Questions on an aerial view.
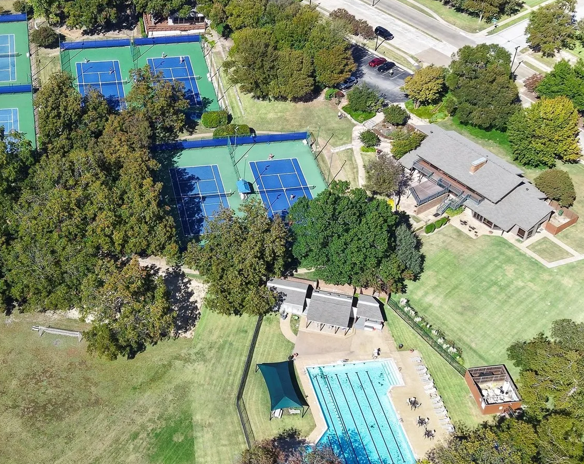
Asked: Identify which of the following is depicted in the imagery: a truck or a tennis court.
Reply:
tennis court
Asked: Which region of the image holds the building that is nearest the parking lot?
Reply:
right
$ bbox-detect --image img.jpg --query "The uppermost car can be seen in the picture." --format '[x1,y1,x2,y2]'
[377,24,393,36]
